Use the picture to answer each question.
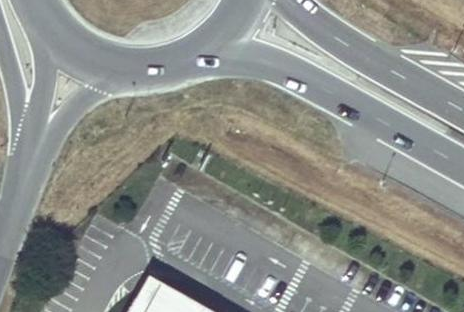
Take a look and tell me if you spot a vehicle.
Yes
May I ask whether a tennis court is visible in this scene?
No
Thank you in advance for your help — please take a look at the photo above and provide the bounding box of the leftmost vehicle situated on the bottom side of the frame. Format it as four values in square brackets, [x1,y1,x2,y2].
[226,252,248,282]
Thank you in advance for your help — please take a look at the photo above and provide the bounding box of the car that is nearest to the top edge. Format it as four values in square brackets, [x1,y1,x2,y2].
[296,0,318,14]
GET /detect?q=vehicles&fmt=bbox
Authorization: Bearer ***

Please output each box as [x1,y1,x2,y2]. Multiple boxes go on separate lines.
[388,286,405,307]
[258,276,276,298]
[376,280,394,302]
[364,274,380,294]
[286,80,308,93]
[393,134,414,150]
[146,66,166,77]
[226,252,248,282]
[401,293,418,312]
[296,0,318,14]
[344,262,360,282]
[198,58,218,69]
[338,106,360,120]
[270,282,286,303]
